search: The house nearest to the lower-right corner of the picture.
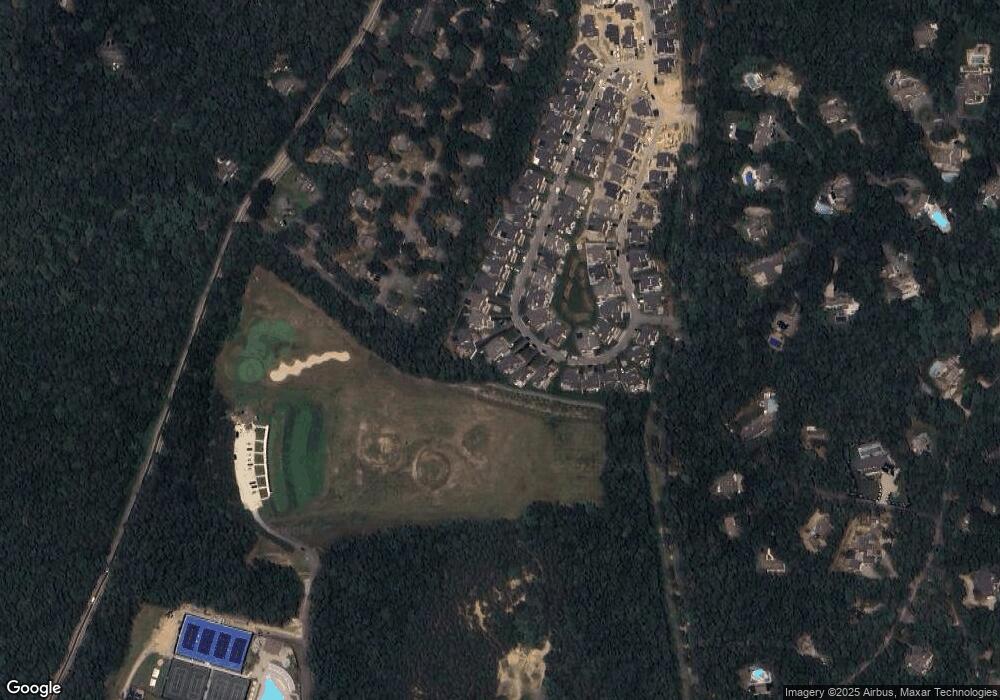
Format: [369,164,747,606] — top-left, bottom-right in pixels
[899,641,939,674]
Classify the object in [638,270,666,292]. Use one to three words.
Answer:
house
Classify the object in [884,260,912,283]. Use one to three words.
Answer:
house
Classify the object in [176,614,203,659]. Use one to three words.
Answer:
tennis court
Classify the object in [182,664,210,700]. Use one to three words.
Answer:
tennis court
